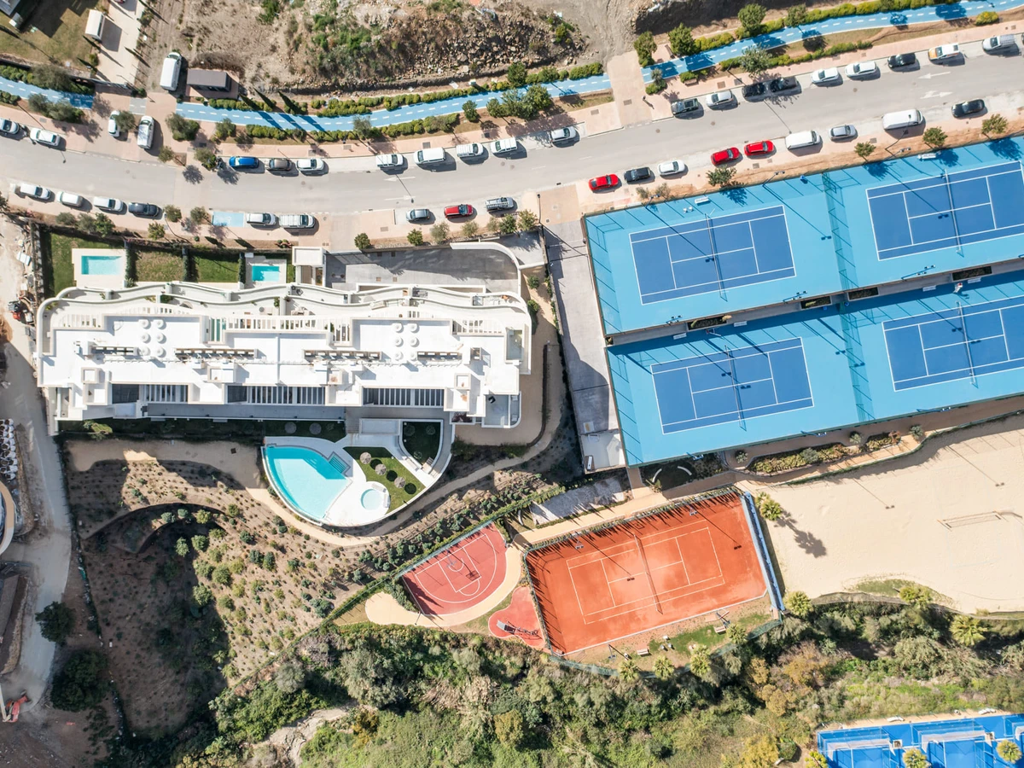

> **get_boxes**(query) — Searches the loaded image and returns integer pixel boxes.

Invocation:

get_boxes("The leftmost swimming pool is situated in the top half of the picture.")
[72,248,126,290]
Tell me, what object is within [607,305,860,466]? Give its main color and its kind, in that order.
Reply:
blue tennis court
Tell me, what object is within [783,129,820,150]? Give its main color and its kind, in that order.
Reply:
white vehicle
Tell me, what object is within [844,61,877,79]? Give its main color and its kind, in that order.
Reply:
white car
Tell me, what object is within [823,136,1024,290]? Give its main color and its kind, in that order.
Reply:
blue tennis court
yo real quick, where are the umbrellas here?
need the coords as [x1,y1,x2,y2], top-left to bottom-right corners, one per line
[310,423,321,434]
[285,422,297,433]
[394,477,406,488]
[375,463,387,475]
[360,452,372,464]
